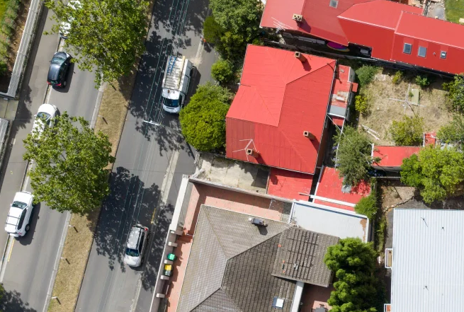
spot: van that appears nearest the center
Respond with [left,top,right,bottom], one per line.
[160,58,189,110]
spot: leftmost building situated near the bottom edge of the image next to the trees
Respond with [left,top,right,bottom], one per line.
[176,199,373,312]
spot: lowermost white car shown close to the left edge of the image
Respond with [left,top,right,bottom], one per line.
[2,191,34,237]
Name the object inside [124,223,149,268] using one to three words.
car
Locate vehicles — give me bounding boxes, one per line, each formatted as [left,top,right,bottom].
[2,191,34,237]
[124,223,149,268]
[31,102,57,131]
[160,58,189,110]
[48,51,72,90]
